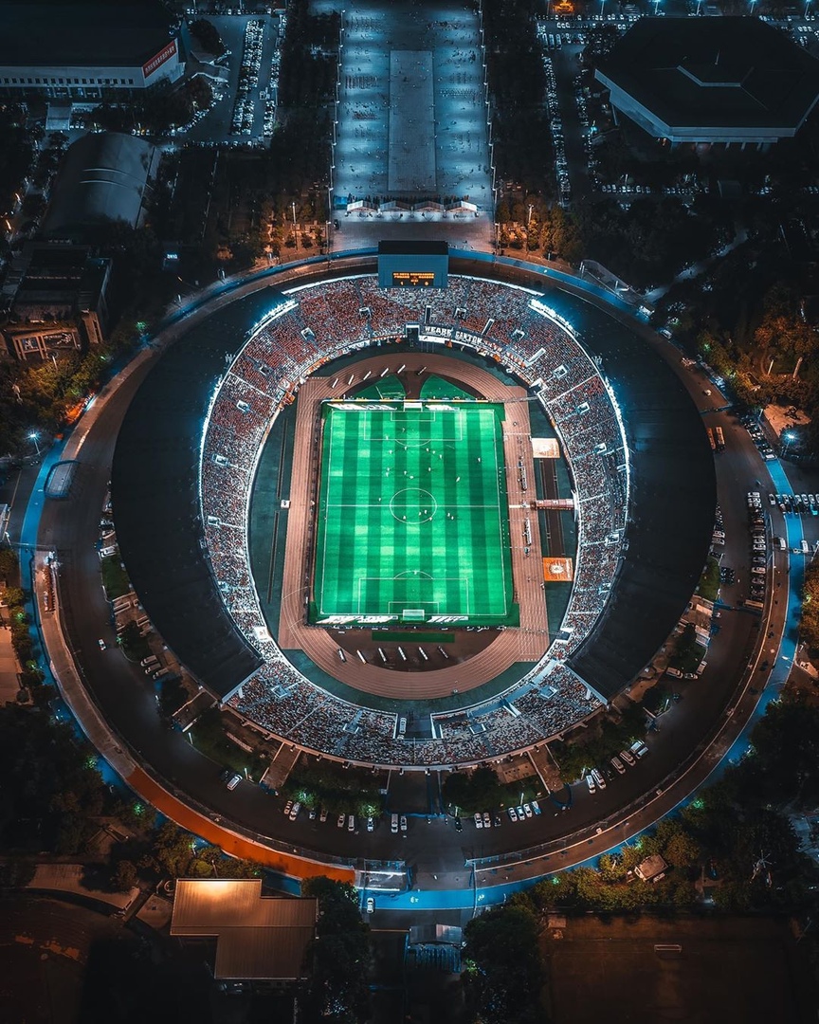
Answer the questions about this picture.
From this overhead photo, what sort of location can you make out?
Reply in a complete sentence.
It's a sports ground.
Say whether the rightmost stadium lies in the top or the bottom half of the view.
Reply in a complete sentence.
It is in the top half that the rightmost stadium appears.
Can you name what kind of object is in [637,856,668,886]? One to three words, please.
house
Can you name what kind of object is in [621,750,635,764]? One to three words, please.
vehicle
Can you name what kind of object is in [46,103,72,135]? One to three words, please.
building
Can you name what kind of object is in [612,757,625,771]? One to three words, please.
vehicle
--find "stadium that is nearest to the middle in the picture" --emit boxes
[112,276,716,775]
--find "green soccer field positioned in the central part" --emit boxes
[308,399,519,626]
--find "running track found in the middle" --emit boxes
[278,353,549,696]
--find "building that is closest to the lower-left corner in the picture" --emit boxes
[170,878,319,991]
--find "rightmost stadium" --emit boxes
[594,17,819,152]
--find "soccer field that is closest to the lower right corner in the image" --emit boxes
[545,916,819,1024]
